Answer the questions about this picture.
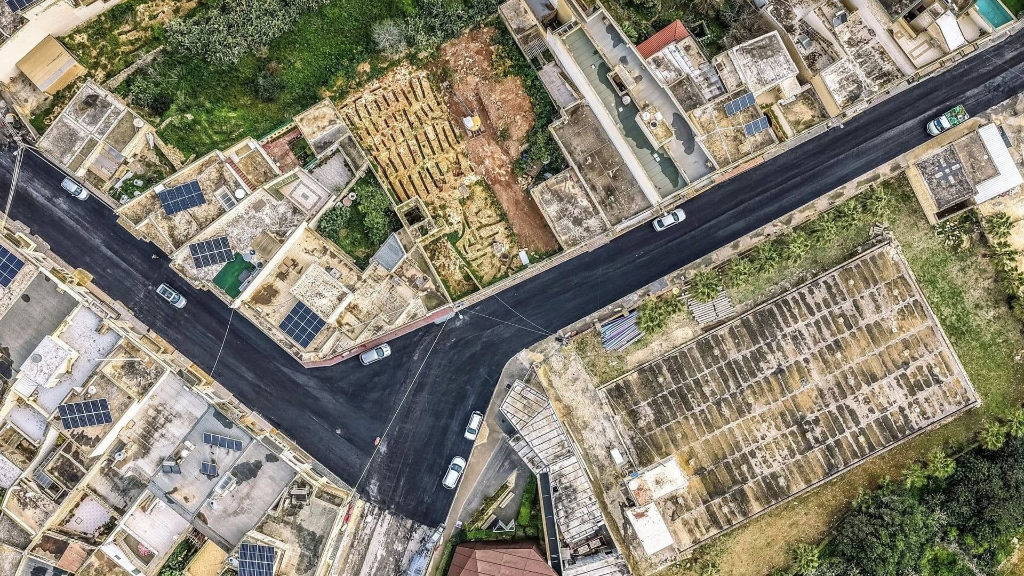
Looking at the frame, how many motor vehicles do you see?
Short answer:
8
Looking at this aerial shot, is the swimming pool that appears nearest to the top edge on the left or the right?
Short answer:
right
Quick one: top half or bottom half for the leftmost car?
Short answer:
top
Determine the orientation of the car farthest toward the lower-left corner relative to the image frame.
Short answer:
at an angle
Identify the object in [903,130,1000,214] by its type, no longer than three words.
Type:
house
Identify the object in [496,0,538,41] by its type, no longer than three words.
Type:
house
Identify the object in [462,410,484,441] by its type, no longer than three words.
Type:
car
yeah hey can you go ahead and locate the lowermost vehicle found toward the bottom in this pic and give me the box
[443,457,464,490]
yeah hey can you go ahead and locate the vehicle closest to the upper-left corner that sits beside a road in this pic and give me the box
[57,175,89,201]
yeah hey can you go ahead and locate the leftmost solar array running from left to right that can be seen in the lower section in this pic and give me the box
[58,398,113,429]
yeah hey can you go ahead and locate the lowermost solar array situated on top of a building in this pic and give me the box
[239,543,275,576]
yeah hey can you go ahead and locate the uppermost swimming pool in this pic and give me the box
[968,0,1017,34]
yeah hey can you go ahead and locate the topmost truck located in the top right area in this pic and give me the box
[930,106,970,132]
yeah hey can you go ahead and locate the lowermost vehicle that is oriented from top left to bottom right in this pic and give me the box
[153,282,185,309]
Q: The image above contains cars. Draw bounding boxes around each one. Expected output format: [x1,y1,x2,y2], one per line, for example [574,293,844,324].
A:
[462,410,484,441]
[153,282,185,309]
[57,175,89,201]
[358,344,391,365]
[443,457,464,490]
[653,207,686,232]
